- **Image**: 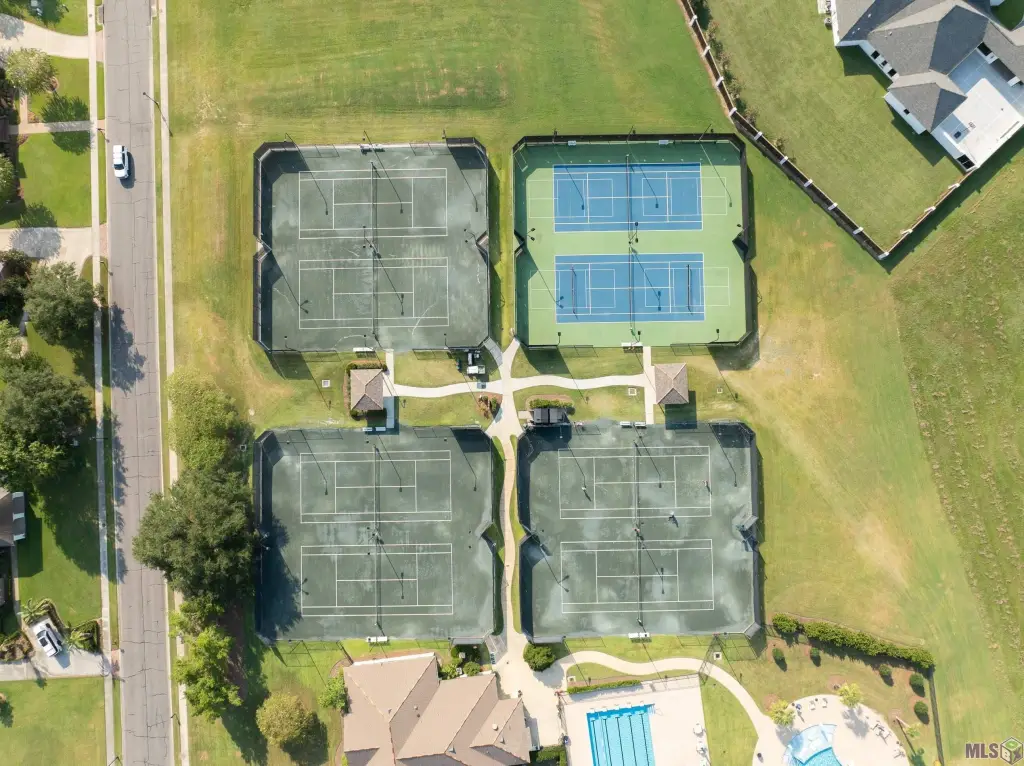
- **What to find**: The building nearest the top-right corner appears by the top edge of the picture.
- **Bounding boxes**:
[835,0,1024,176]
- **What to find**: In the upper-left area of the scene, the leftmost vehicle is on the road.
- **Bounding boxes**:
[111,145,130,180]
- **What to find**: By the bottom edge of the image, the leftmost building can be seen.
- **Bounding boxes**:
[343,651,530,766]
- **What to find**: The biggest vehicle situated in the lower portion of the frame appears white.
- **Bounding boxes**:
[34,621,61,657]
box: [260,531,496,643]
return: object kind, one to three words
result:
tennis court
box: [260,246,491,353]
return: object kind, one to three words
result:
tennis court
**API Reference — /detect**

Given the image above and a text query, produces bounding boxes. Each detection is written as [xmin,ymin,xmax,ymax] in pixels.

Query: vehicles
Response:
[111,145,130,180]
[34,621,61,657]
[467,364,487,373]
